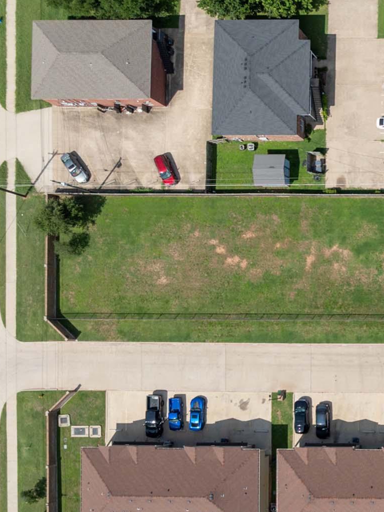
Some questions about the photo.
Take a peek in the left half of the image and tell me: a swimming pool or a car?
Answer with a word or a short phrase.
car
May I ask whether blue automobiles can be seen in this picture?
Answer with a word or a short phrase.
Yes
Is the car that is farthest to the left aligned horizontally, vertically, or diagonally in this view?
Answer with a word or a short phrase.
diagonally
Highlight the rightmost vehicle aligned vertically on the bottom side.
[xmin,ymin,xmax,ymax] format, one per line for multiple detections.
[315,403,331,437]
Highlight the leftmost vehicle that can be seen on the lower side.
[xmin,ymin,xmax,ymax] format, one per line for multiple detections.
[144,395,164,436]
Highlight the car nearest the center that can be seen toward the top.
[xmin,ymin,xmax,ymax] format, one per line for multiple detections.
[156,152,178,185]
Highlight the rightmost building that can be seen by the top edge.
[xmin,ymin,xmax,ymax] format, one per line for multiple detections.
[212,20,327,141]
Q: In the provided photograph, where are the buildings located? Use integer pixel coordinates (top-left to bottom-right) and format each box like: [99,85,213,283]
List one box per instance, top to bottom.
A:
[32,19,180,107]
[212,20,327,141]
[251,155,289,187]
[80,441,270,512]
[276,442,384,512]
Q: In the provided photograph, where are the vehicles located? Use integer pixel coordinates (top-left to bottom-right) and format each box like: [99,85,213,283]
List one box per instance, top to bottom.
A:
[377,116,384,130]
[62,151,90,183]
[156,152,178,185]
[144,395,164,436]
[166,397,184,430]
[187,397,205,430]
[293,400,310,434]
[315,403,331,437]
